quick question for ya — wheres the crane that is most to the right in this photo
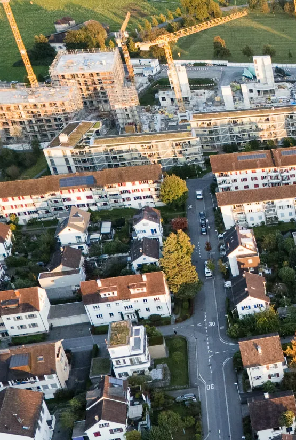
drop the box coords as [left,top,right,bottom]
[134,9,248,116]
